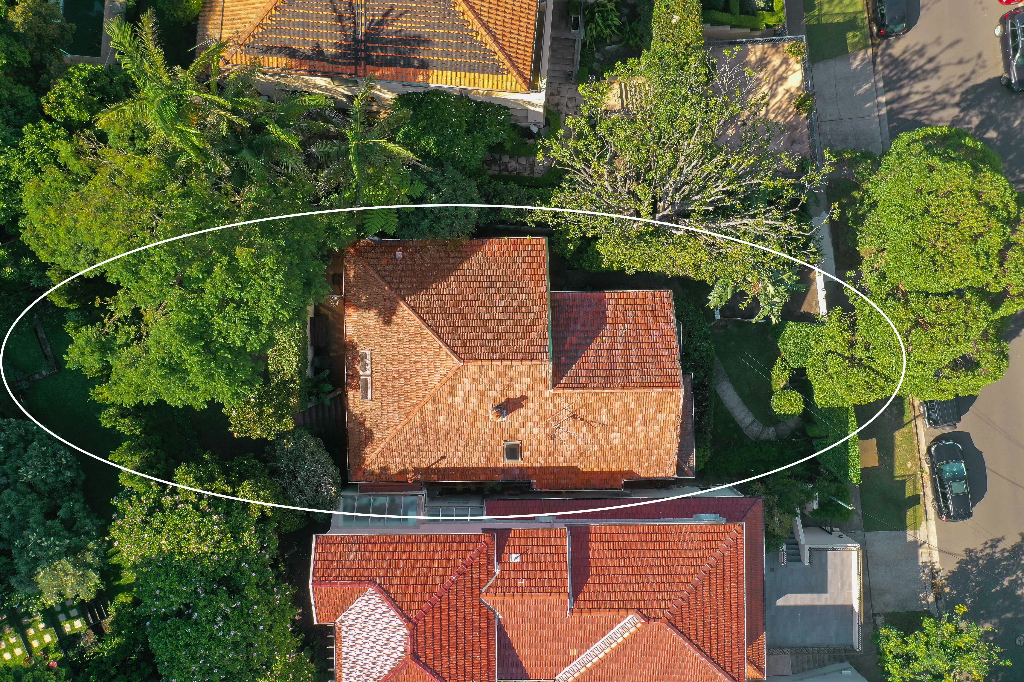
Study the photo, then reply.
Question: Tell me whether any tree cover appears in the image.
Yes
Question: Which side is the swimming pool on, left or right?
left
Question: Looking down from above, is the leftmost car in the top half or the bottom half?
top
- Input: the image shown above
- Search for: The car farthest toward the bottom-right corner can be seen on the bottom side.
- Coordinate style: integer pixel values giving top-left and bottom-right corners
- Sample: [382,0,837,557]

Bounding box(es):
[923,437,975,526]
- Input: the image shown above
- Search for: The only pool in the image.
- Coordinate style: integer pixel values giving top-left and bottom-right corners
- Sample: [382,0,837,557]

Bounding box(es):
[42,0,130,70]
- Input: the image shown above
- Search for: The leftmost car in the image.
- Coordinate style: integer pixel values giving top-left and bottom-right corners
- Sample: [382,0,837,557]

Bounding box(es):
[870,0,910,42]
